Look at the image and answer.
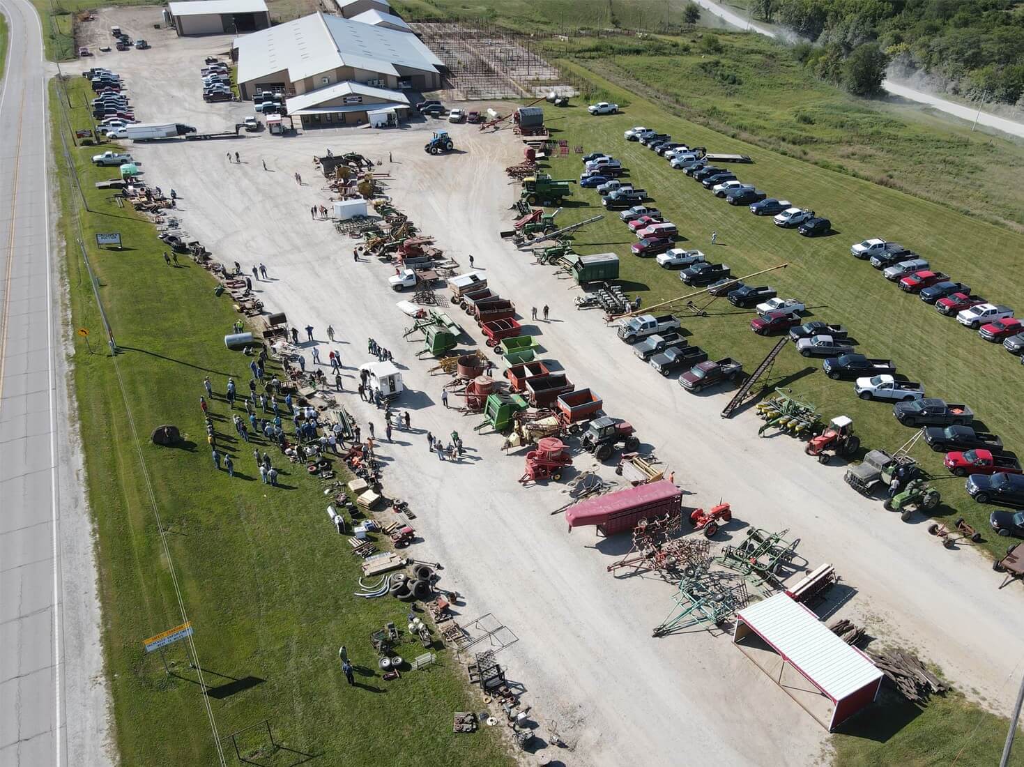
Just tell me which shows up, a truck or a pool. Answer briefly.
truck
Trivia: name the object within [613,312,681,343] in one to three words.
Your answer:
truck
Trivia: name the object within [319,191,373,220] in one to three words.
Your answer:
trailer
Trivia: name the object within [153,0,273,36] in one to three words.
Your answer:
shed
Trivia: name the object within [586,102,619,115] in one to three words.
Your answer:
vehicle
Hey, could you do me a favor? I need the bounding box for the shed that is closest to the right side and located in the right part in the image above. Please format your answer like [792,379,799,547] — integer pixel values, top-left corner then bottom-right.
[729,589,886,733]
